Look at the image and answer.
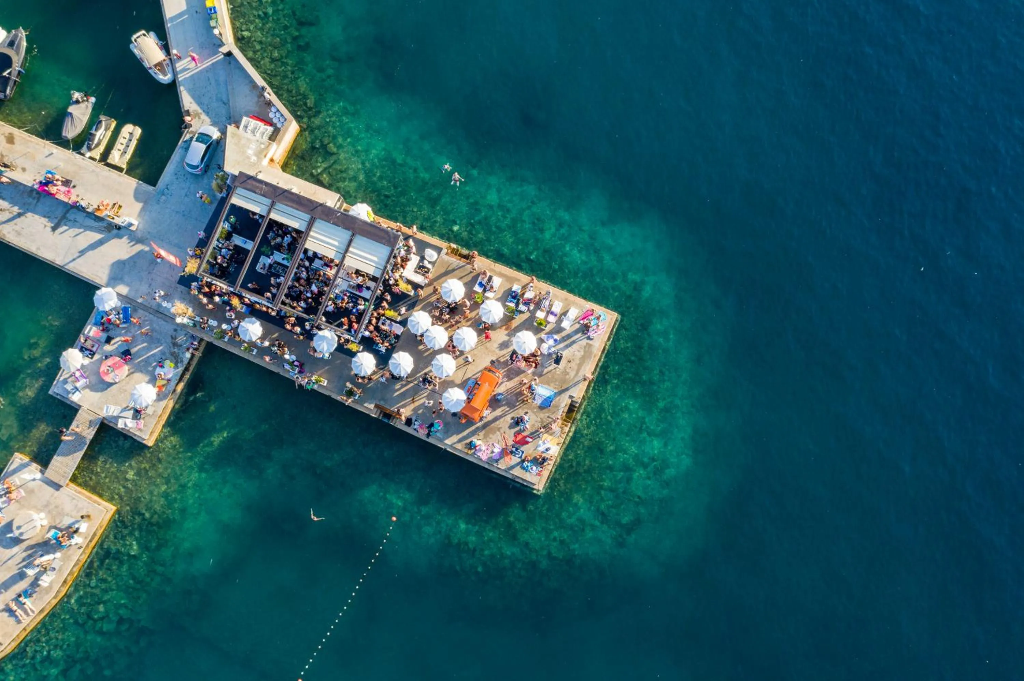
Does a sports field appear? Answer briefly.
No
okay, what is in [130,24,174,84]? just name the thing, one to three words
boat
